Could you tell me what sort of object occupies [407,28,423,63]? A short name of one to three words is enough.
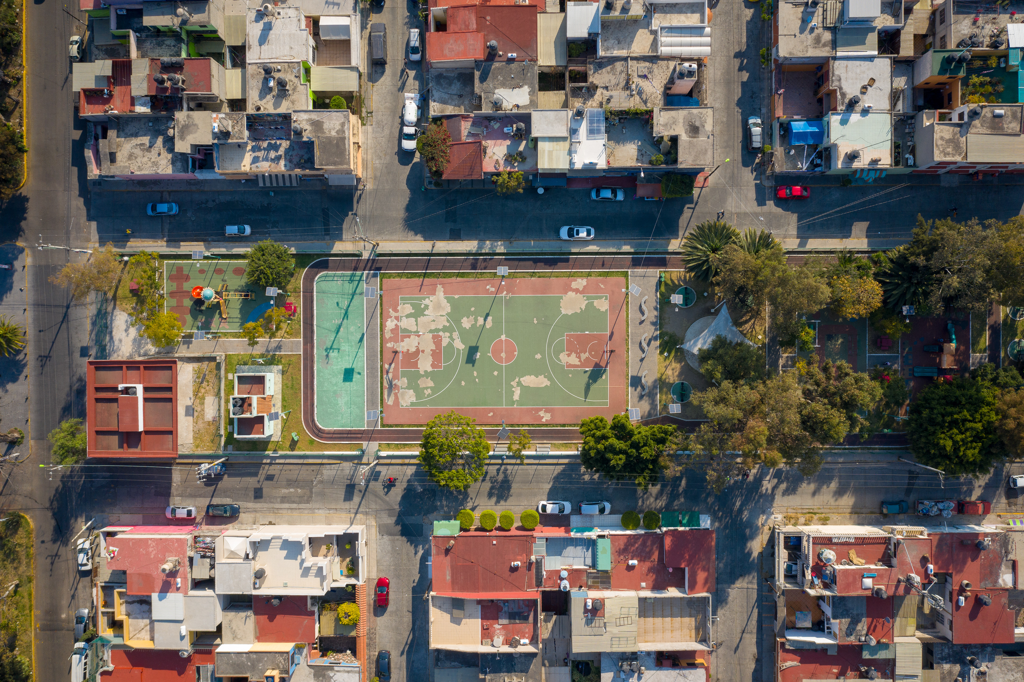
car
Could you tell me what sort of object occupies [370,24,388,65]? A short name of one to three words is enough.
vehicle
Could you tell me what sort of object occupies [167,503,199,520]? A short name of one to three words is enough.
car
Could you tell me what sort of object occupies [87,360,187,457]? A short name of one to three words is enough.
building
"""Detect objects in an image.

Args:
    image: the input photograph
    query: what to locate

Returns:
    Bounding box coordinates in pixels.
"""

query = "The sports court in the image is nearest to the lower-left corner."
[315,272,364,428]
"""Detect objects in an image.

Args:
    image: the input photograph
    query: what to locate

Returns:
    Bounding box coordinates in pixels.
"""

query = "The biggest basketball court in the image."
[382,279,626,424]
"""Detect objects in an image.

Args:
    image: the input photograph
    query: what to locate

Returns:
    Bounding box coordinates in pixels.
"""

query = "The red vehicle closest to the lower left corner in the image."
[375,575,391,607]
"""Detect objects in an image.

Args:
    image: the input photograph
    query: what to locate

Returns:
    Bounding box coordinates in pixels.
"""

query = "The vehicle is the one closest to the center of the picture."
[559,225,594,241]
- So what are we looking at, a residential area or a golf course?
residential area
